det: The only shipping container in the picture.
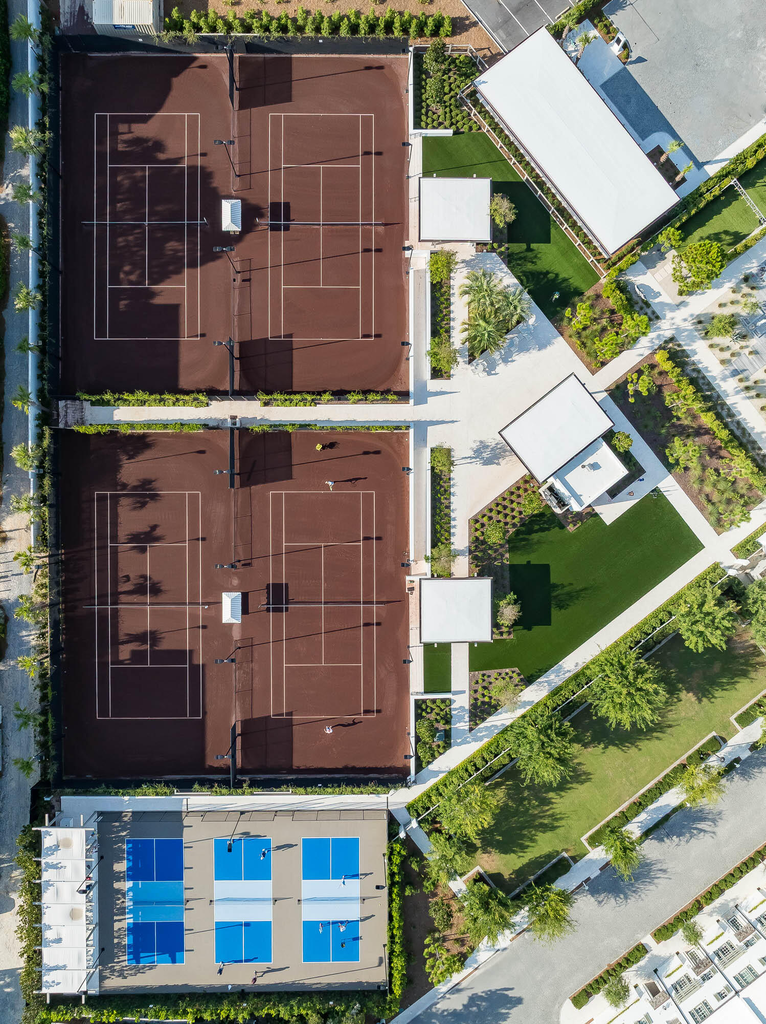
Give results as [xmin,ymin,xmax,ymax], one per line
[92,0,160,35]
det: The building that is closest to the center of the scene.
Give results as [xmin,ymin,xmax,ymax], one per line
[420,573,493,646]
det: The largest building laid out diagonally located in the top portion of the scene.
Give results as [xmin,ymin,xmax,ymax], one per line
[473,27,681,261]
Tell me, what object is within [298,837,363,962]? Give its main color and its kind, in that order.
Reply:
blue sports court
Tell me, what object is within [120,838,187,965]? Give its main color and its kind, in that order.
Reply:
blue sports court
